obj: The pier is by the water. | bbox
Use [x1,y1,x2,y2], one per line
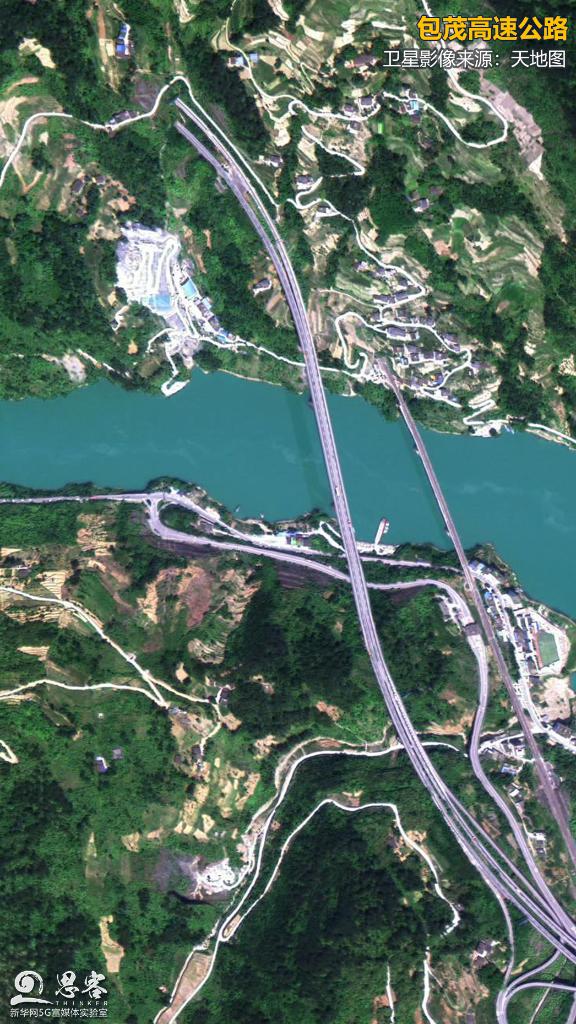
[355,541,404,553]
